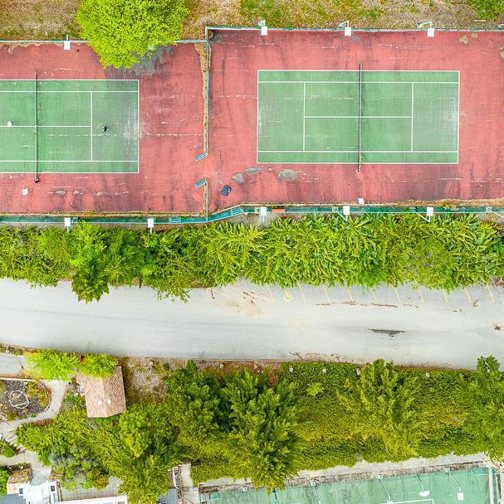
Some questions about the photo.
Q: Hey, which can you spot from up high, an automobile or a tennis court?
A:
tennis court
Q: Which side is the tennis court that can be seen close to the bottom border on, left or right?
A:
right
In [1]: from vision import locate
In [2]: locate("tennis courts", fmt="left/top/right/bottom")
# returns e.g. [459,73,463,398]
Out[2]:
[0,37,220,216]
[209,26,504,217]
[205,468,489,504]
